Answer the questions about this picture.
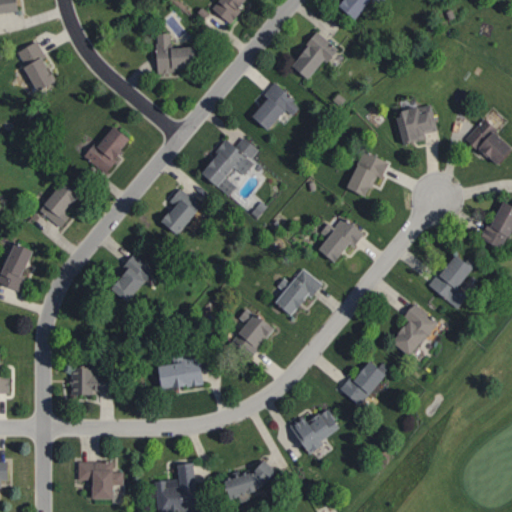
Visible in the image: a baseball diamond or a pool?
pool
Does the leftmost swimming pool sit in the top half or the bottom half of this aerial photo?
top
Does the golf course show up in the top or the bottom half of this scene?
bottom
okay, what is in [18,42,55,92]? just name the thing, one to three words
house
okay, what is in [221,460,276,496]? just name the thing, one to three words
house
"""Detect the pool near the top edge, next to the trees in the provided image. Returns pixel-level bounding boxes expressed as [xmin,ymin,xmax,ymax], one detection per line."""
[165,12,188,42]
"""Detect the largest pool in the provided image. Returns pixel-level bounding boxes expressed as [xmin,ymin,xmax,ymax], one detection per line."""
[226,161,266,212]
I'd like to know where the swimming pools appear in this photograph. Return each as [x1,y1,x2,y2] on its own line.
[165,12,188,42]
[226,161,266,212]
